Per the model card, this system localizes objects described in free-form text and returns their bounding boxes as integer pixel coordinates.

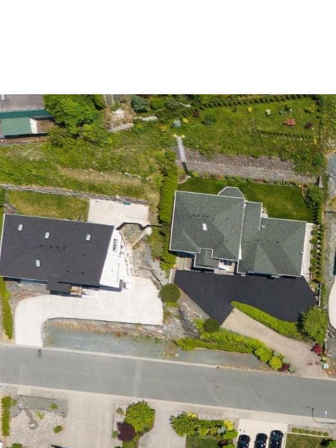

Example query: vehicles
[252,434,266,448]
[235,436,249,448]
[267,431,281,448]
